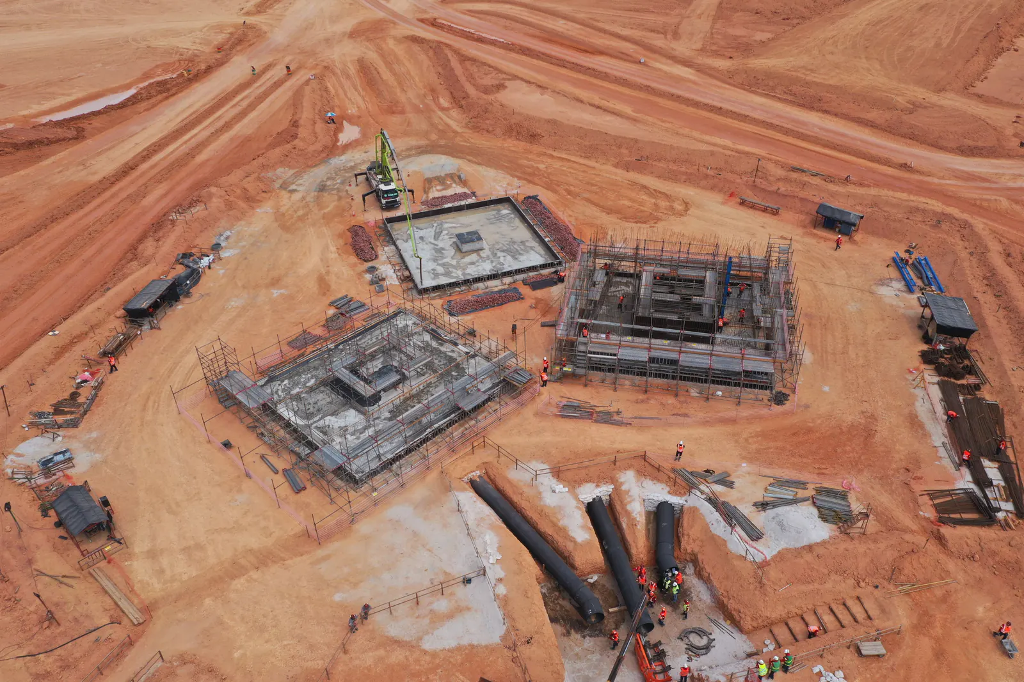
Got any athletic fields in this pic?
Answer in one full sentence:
No, no athletic field is visible in the scene.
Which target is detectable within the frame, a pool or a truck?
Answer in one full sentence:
This aerial view contains a truck.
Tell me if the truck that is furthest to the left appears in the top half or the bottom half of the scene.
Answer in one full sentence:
It is in the top half that the truck that is furthest to the left appears.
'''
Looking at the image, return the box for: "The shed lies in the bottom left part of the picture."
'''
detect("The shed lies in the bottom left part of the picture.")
[51,486,118,558]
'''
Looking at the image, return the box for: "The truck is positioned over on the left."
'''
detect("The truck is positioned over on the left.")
[354,126,426,289]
